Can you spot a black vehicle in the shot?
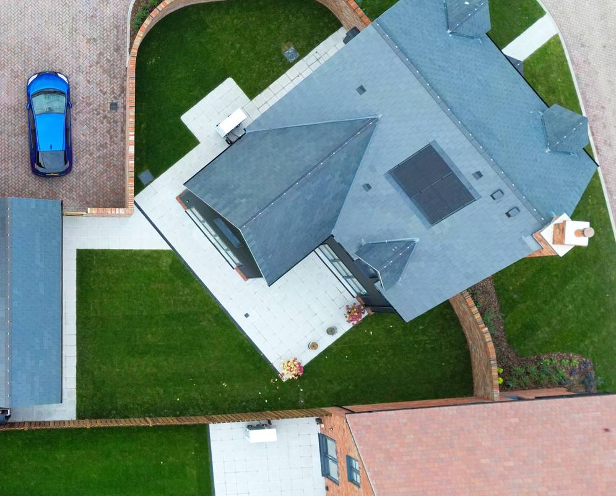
No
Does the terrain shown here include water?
No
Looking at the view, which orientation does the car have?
from top to bottom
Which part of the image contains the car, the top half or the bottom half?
top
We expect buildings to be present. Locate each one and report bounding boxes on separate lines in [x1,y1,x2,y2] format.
[319,387,616,496]
[0,197,64,407]
[175,0,599,324]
